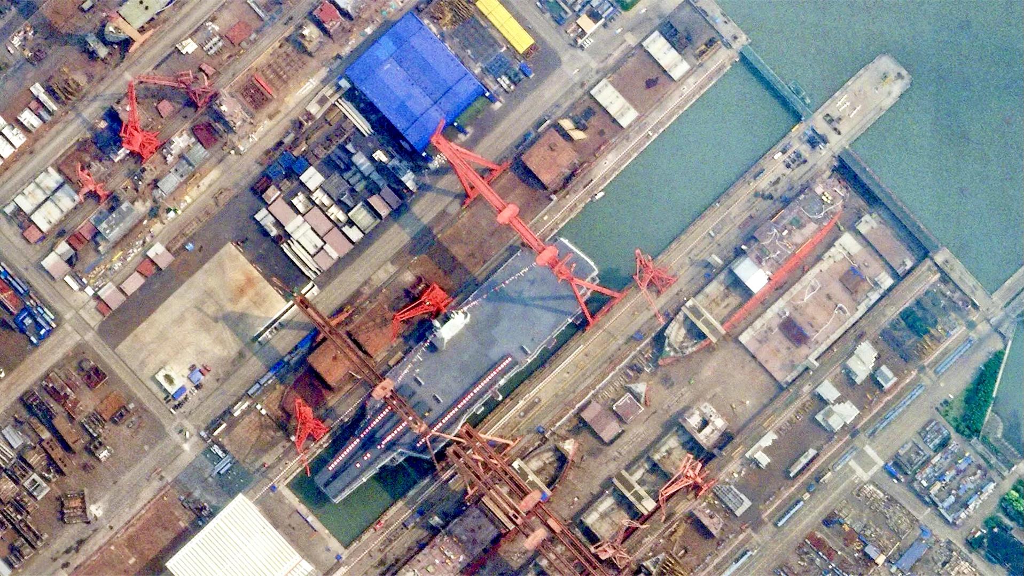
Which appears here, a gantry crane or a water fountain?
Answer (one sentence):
Looking from above, you can make out a gantry crane.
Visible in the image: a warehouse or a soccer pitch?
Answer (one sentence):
Looking from above, you can make out a warehouse.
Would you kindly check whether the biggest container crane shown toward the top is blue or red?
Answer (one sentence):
From above, the biggest container crane shown toward the top appears red.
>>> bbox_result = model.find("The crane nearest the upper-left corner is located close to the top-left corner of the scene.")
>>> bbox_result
[105,11,161,53]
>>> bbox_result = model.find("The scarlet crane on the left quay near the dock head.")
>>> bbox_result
[296,399,330,484]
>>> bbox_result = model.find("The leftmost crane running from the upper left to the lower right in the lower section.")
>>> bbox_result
[274,279,484,480]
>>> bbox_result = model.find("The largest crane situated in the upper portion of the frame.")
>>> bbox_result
[430,120,630,333]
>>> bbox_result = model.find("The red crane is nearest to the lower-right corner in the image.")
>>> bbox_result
[658,455,716,529]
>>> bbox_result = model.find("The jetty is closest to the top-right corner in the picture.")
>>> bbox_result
[801,54,911,157]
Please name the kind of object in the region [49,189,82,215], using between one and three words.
shed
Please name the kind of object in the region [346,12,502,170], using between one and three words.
warehouse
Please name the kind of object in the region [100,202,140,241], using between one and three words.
building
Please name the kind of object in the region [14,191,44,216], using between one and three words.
shed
